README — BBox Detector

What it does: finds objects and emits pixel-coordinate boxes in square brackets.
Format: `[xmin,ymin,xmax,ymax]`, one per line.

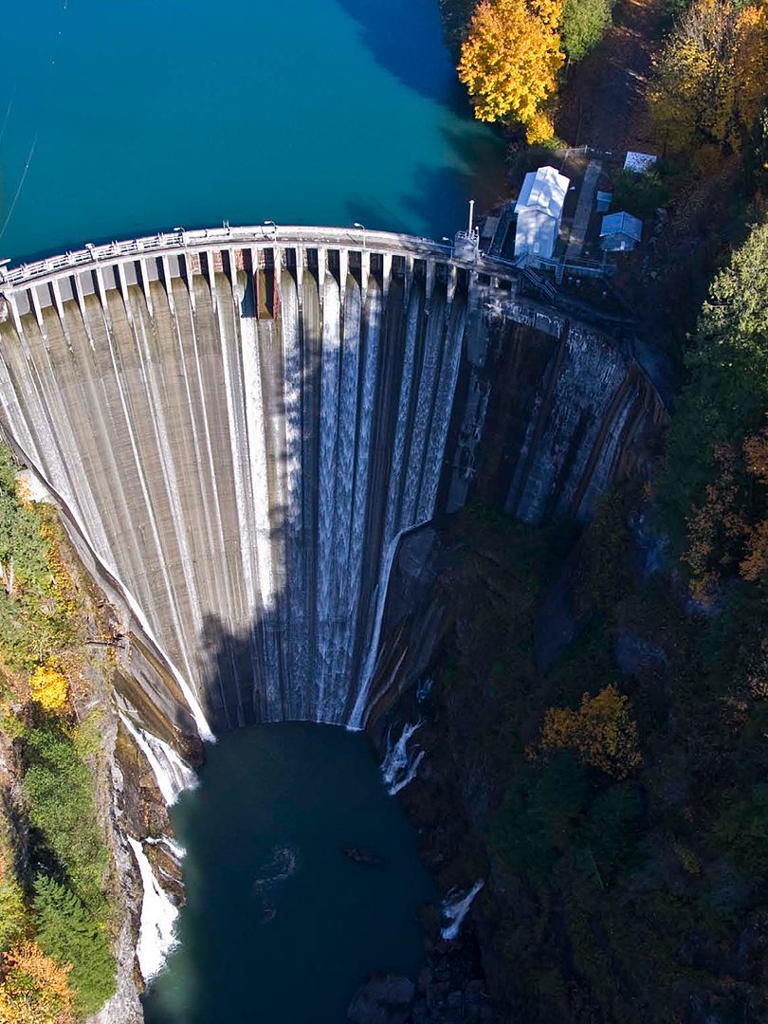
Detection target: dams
[0,216,692,737]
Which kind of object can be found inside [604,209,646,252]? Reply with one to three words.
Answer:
shed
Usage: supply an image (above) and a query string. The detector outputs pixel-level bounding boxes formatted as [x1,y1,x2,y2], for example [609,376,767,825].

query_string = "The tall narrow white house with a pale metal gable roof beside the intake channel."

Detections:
[513,158,571,262]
